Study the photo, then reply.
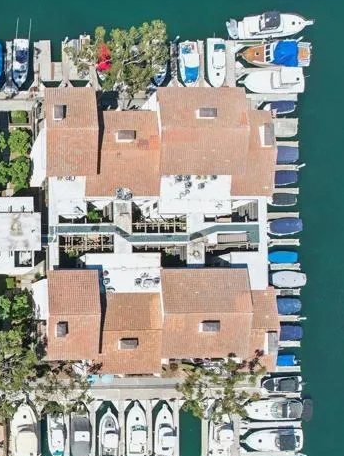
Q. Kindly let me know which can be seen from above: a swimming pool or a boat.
boat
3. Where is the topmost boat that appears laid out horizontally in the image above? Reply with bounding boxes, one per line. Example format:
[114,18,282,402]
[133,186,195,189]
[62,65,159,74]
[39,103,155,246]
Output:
[237,11,317,43]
